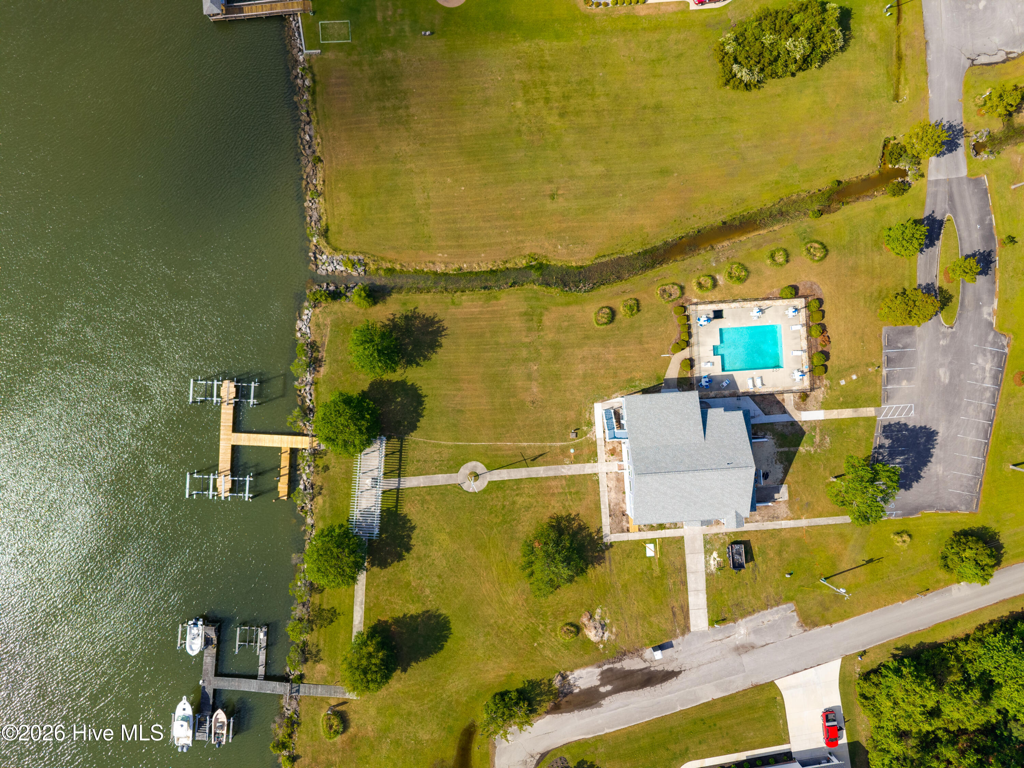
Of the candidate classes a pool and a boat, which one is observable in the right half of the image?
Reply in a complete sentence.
There is a pool in the right half of the image.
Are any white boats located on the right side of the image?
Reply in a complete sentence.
No, no white boat is visible on the right side of the image.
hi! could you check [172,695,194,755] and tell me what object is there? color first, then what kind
white boat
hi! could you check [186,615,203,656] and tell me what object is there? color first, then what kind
white boat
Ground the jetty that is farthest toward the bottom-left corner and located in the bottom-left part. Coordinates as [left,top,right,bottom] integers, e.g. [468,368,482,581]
[197,622,359,740]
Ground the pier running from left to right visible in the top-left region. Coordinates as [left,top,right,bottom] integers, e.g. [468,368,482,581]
[208,0,312,25]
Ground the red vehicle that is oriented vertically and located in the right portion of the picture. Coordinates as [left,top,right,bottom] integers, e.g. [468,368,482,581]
[819,709,838,747]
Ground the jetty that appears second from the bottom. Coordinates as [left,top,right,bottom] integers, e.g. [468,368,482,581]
[217,380,327,502]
